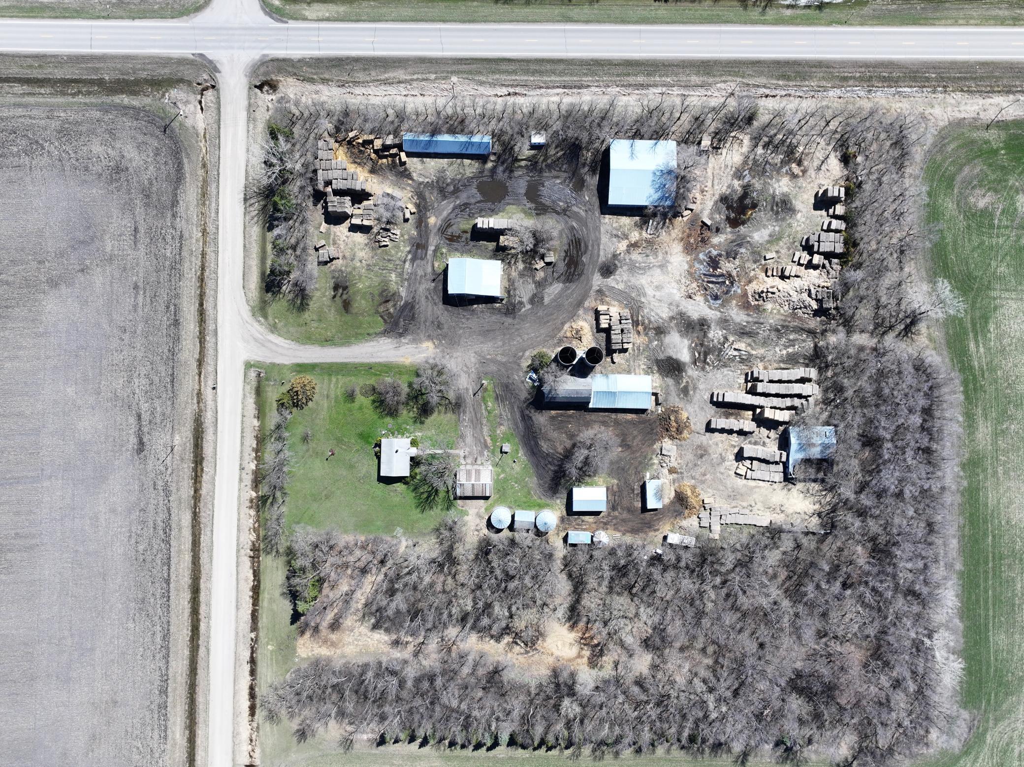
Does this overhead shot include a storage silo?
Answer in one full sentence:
Yes, there is a storage silo in the image.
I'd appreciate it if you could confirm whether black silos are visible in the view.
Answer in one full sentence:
Yes, there is a black silo in the image.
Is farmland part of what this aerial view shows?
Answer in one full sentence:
Yes, some farmland is visible.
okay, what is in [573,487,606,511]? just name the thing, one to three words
shed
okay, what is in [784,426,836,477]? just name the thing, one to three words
shed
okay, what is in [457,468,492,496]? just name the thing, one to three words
building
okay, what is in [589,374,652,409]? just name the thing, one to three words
barn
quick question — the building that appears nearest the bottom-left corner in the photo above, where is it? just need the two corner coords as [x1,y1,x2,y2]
[381,439,417,477]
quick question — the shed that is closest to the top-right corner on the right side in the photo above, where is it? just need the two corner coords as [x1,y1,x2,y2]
[607,140,676,210]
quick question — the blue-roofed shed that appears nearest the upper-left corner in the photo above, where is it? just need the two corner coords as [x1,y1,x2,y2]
[403,133,491,156]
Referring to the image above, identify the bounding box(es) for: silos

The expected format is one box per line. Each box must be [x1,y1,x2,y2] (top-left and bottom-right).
[556,346,576,365]
[491,505,511,528]
[583,346,604,365]
[536,508,556,530]
[592,529,609,546]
